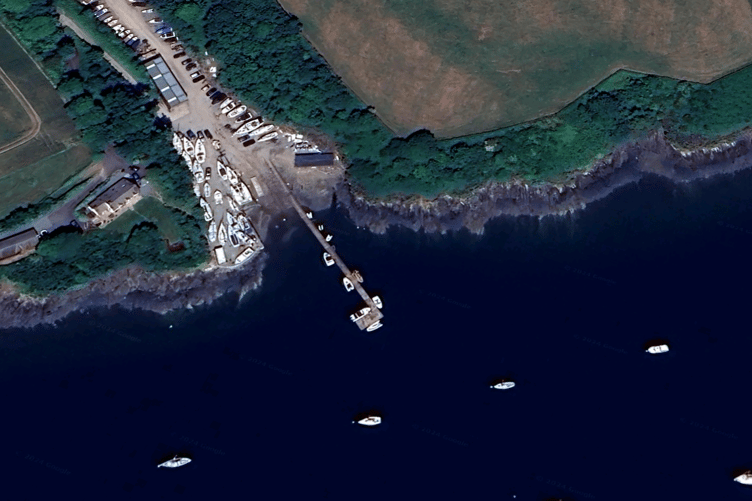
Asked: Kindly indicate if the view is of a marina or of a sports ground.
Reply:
marina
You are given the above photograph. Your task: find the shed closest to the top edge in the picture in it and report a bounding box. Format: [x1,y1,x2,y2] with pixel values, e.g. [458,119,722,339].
[143,52,188,109]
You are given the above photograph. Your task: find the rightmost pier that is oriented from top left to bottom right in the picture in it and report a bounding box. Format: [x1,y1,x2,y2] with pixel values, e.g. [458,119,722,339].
[265,159,383,331]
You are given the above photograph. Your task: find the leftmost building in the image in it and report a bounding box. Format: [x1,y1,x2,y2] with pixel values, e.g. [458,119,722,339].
[0,227,40,259]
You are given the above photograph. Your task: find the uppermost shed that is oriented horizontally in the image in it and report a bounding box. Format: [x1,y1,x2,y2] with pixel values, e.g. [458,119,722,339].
[295,154,333,167]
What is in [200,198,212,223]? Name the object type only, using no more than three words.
boat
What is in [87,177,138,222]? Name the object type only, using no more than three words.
house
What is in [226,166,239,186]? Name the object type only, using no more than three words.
boat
